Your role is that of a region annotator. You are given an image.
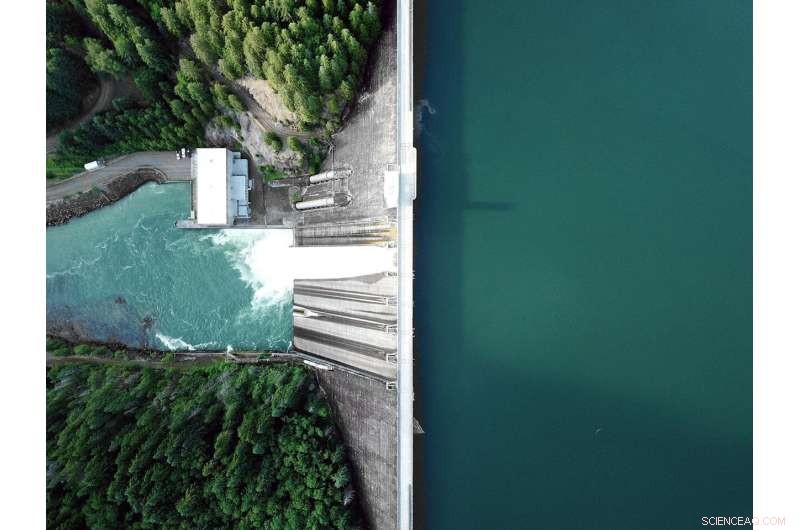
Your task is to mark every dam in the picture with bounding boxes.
[288,0,423,530]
